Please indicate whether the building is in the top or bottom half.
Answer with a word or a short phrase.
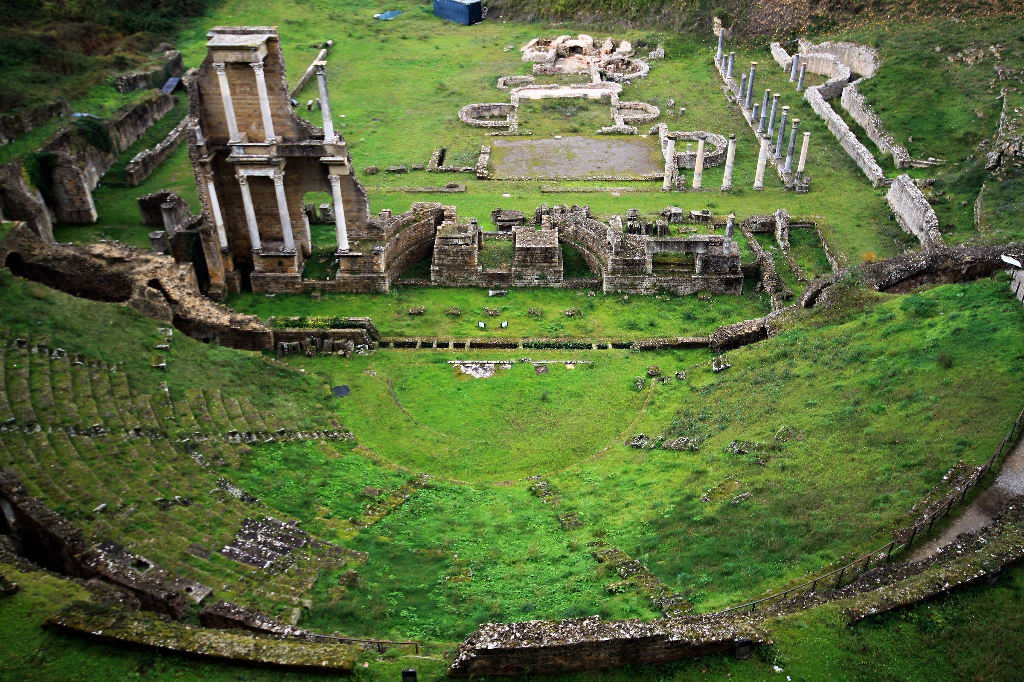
top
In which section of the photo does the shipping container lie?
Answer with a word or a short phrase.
top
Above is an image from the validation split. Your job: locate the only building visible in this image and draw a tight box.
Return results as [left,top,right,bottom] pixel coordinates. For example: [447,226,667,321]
[181,19,387,292]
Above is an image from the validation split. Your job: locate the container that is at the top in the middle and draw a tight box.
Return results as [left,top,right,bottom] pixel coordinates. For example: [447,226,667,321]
[429,0,482,25]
